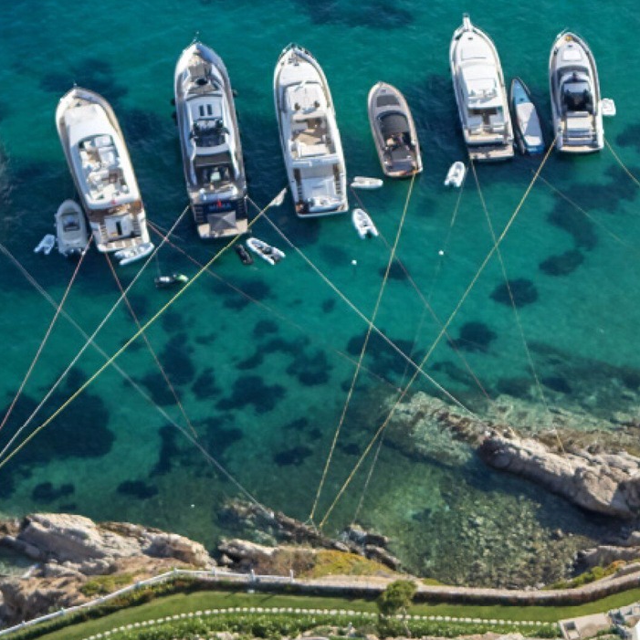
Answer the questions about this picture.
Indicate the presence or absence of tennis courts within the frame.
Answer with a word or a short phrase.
No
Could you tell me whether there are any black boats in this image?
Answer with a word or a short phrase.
Yes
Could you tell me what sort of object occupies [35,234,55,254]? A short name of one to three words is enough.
boat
